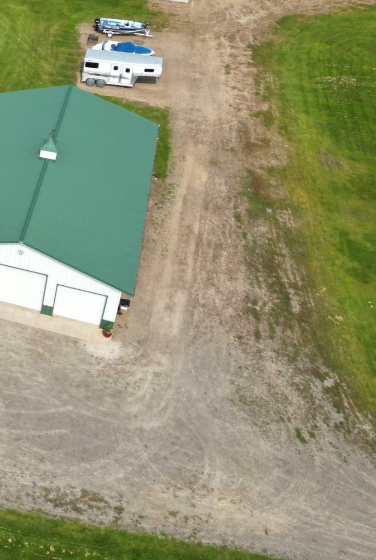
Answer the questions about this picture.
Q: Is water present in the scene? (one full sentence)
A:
No, the scene doesn't show any water.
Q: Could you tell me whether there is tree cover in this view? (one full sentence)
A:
No, the scene doesn't show any tree cover.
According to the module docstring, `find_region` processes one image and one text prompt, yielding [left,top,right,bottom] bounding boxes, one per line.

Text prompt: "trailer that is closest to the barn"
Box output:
[81,47,162,89]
